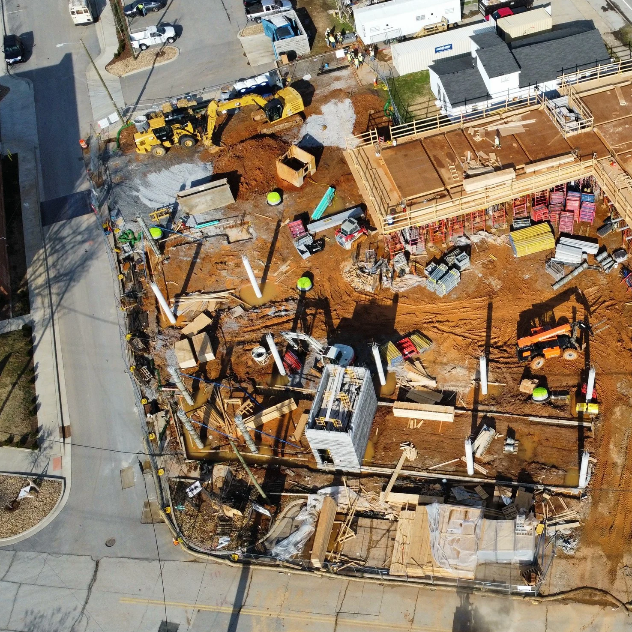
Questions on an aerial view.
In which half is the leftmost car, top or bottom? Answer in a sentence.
Seen from above, the leftmost car lies in the top half of the view.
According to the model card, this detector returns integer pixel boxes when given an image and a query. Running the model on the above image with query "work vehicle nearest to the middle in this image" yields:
[278,331,363,369]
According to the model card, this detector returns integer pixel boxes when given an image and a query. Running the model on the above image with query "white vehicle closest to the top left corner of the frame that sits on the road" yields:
[65,0,94,27]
